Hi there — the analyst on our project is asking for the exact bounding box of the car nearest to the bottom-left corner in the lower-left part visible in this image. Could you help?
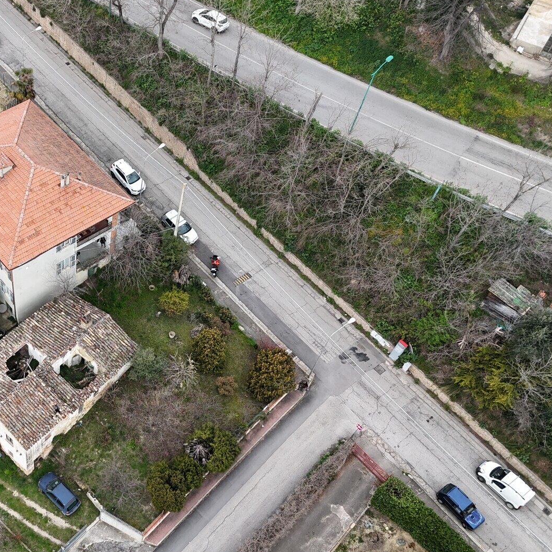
[37,471,84,521]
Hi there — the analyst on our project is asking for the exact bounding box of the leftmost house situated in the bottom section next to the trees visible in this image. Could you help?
[0,287,141,474]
